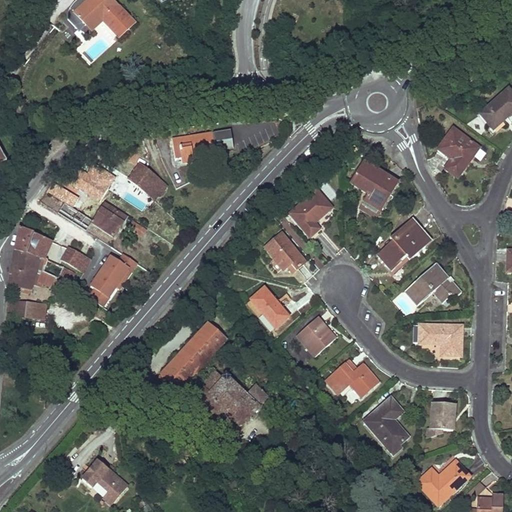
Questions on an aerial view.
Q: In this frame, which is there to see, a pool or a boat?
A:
pool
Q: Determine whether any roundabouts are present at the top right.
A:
Yes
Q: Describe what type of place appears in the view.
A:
residential area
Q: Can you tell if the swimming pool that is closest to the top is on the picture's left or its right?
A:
left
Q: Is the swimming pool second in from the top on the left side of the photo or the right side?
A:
left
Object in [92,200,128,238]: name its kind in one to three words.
house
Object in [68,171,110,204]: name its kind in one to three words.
barn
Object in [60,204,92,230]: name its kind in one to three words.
shed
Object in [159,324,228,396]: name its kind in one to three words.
building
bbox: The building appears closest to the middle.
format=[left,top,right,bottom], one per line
[264,230,305,275]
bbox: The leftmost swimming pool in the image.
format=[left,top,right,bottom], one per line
[84,38,108,61]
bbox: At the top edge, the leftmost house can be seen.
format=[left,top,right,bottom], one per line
[68,0,137,40]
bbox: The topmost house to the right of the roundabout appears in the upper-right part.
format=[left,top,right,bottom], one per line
[480,84,512,131]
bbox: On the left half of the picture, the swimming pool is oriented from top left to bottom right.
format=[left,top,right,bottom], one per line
[124,192,146,211]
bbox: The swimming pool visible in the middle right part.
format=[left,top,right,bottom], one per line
[396,294,414,314]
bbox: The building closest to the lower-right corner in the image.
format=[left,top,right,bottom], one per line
[470,482,504,512]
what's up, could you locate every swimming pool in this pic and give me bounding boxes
[84,38,108,61]
[124,192,146,211]
[396,294,414,314]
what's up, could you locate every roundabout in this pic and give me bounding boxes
[346,72,409,134]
